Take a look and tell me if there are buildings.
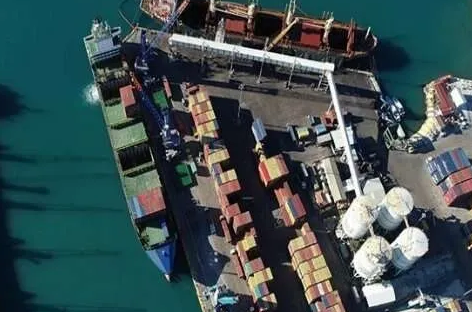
Yes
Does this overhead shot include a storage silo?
Yes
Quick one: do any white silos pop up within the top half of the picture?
No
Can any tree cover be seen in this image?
No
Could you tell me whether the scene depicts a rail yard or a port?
port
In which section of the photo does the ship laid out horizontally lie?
top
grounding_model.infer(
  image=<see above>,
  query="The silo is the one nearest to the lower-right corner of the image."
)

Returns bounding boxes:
[389,227,431,270]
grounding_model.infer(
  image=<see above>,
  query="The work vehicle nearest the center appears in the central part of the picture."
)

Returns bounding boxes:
[251,138,268,157]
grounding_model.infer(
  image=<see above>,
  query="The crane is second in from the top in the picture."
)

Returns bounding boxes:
[128,69,187,160]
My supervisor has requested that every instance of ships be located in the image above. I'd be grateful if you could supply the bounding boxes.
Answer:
[87,23,199,293]
[126,0,379,77]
